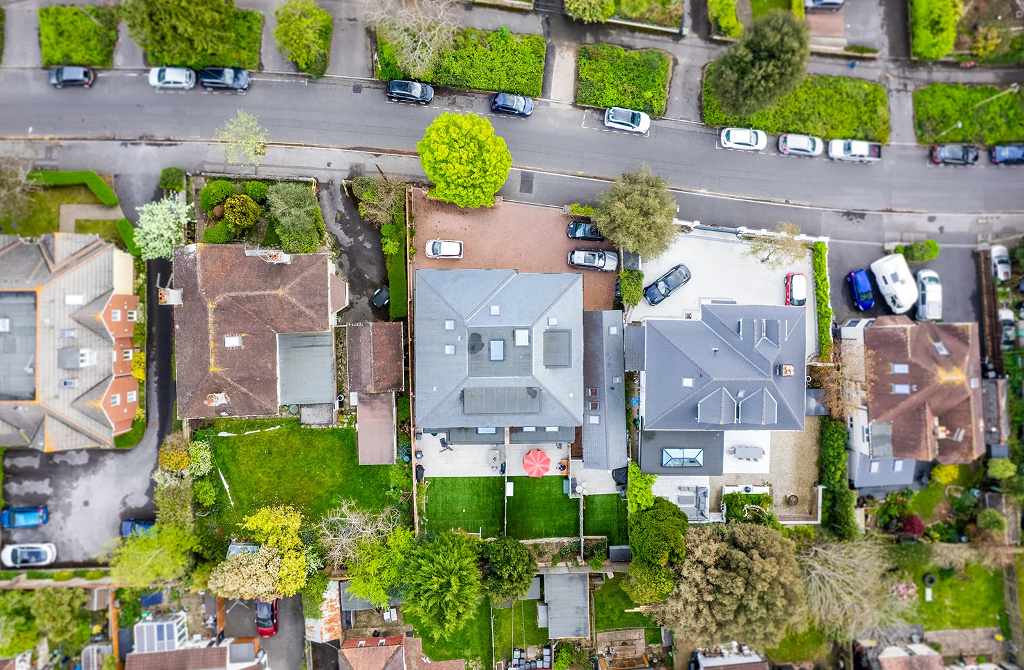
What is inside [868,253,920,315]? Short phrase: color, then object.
white camper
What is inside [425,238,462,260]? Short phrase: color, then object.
white car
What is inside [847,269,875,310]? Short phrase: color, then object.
blue car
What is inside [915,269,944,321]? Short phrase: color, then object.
white truck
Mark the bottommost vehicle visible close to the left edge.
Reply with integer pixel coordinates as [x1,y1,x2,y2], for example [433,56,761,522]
[5,544,56,568]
